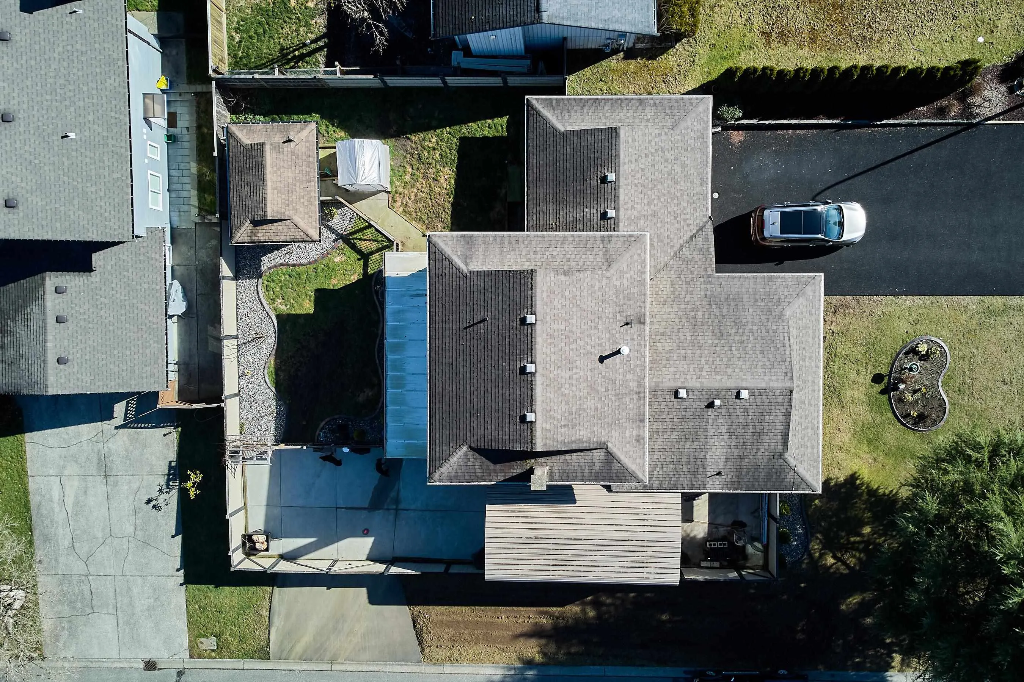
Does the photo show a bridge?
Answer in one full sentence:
No, I can see no bridge in this picture.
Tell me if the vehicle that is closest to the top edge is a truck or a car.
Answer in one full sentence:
From above, the vehicle that is closest to the top edge can be identified as a car.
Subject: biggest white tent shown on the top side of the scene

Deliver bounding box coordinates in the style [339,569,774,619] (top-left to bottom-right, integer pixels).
[337,138,391,192]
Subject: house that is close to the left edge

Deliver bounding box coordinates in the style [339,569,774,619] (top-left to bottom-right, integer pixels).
[0,0,180,396]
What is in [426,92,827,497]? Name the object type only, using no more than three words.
house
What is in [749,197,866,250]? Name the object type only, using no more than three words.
car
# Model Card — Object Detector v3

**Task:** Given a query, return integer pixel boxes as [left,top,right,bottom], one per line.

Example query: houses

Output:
[428,0,659,58]
[0,0,180,396]
[426,92,827,497]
